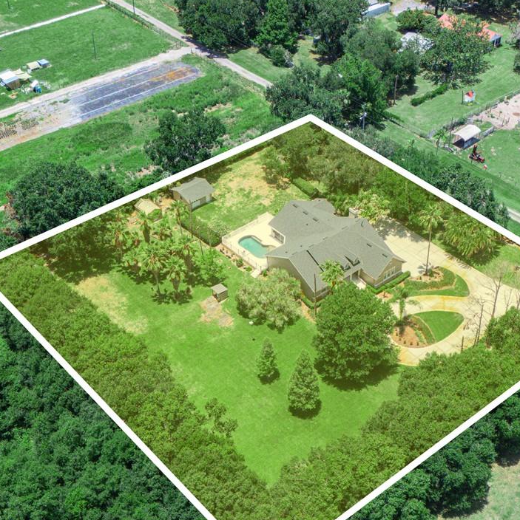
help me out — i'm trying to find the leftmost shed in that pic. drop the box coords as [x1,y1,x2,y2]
[0,68,22,88]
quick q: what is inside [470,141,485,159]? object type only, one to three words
work vehicle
